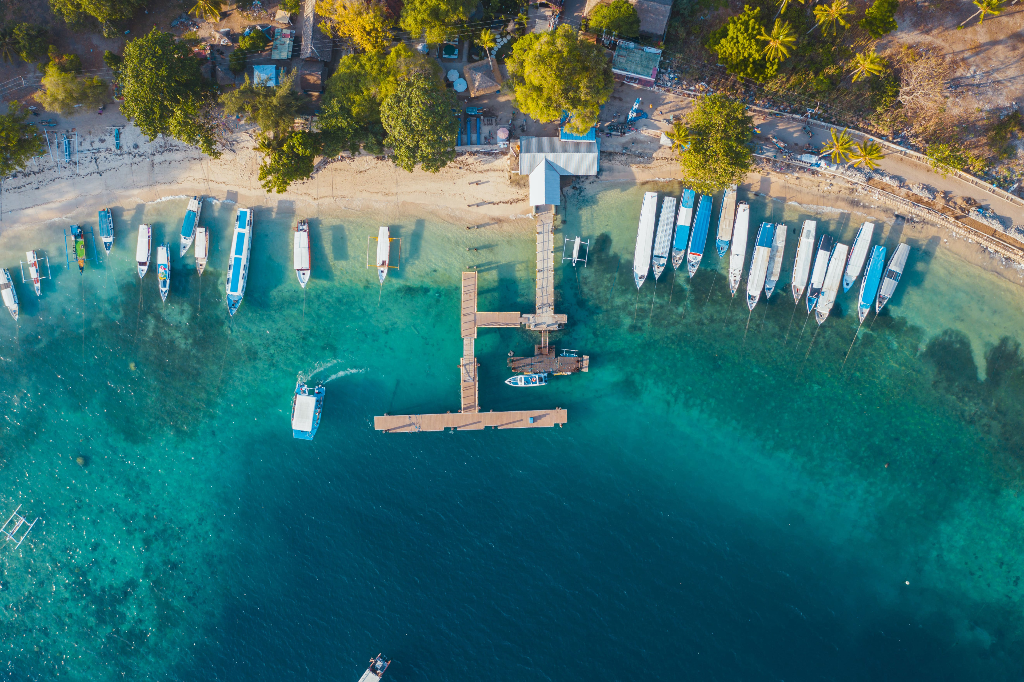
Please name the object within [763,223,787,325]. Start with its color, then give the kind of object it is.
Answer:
white boat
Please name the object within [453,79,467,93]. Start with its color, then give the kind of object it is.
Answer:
blue umbrella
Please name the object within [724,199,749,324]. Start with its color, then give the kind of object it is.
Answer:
white boat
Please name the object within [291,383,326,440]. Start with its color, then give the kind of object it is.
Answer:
white ship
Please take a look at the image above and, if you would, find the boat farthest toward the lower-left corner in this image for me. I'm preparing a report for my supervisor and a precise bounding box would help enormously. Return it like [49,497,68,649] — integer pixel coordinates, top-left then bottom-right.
[0,505,37,549]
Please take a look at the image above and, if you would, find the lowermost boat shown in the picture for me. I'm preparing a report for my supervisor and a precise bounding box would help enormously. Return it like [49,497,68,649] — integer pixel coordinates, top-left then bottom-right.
[357,646,396,682]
